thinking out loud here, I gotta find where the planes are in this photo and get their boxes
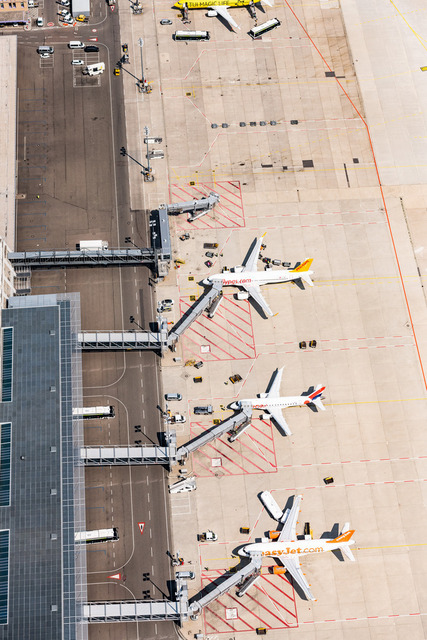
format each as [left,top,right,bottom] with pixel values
[207,230,316,316]
[231,364,324,435]
[174,0,272,28]
[241,492,356,599]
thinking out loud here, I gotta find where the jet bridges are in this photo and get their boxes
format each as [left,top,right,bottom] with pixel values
[169,281,225,352]
[188,549,265,621]
[159,192,223,227]
[177,401,257,466]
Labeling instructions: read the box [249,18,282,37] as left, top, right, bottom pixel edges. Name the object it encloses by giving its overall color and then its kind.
white vehicle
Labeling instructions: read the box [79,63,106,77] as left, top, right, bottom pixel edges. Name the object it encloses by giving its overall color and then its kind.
white vehicle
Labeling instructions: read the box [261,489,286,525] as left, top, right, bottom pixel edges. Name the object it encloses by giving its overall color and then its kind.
white truck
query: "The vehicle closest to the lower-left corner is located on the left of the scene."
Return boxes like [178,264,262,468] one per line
[74,528,119,545]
